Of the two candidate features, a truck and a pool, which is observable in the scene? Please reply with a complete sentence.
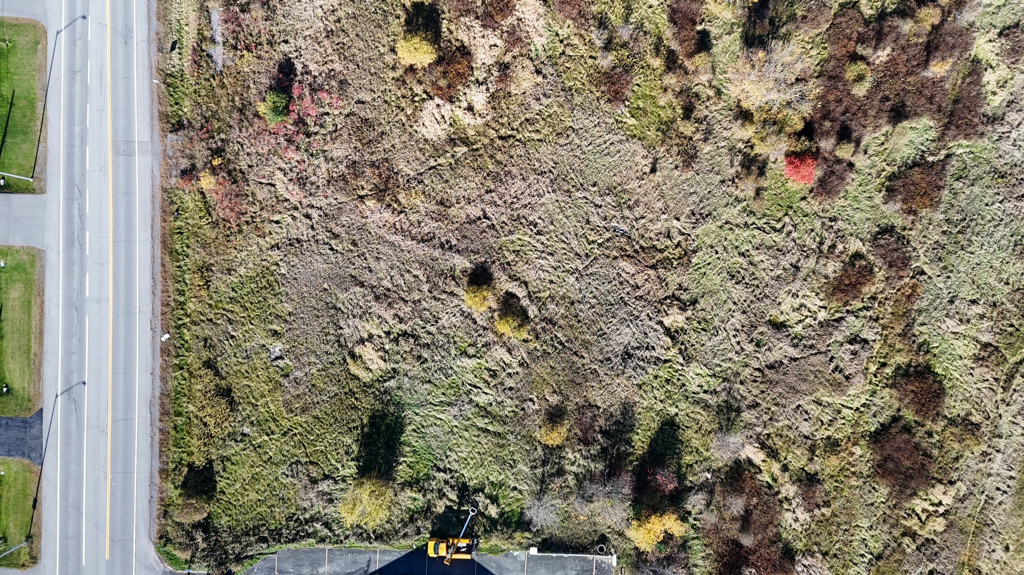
Looking from above, you can make out a truck.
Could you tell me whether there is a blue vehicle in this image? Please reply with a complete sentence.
No, I can see no blue vehicle in this picture.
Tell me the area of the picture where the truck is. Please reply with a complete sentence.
The truck is in the bottom part of the image.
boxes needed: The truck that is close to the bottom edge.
[427,505,478,566]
